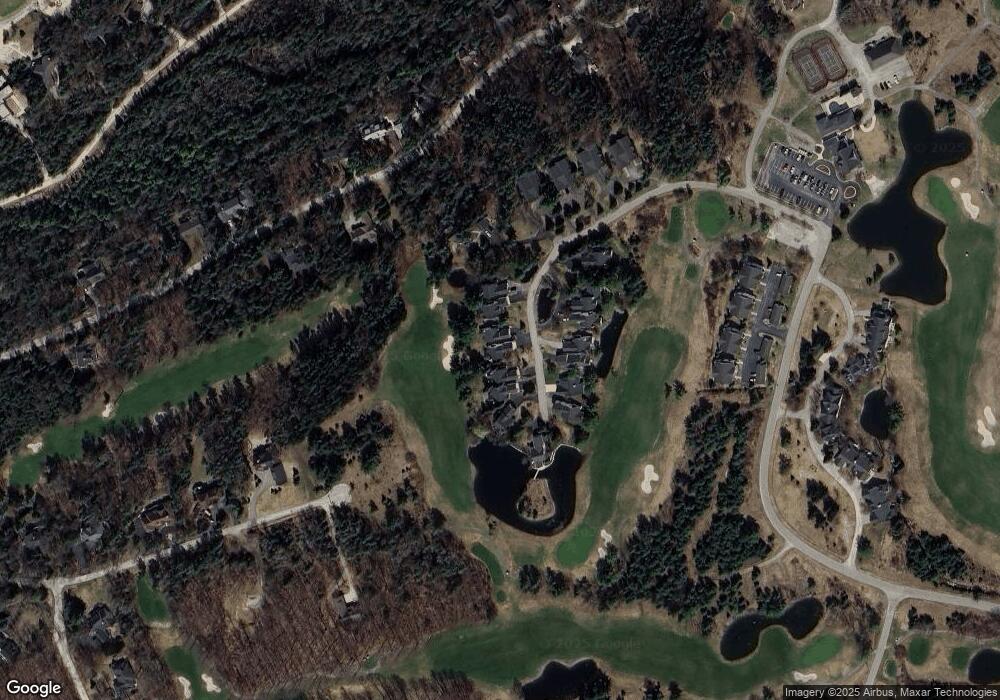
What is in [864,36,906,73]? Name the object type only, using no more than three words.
barn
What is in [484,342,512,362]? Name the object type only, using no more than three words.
house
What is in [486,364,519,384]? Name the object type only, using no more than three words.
house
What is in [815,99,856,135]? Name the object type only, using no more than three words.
building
